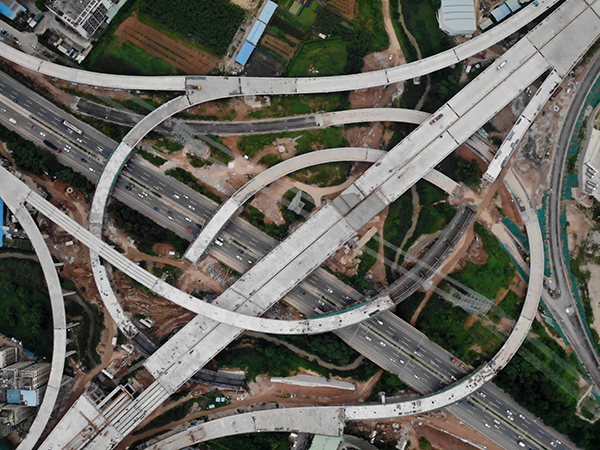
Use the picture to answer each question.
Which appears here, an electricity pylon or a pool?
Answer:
electricity pylon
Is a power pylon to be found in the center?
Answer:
Yes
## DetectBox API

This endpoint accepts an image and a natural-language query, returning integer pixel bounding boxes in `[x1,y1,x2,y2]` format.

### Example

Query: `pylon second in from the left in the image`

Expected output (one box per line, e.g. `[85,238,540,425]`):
[285,190,308,216]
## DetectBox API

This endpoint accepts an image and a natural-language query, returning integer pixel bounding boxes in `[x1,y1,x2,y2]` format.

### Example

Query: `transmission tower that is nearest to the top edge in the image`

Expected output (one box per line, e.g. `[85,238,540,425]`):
[173,118,218,161]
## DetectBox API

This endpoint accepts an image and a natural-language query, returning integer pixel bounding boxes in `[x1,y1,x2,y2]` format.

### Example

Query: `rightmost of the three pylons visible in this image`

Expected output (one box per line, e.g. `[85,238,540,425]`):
[435,278,492,318]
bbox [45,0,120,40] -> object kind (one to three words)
building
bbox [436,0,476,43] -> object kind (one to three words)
building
